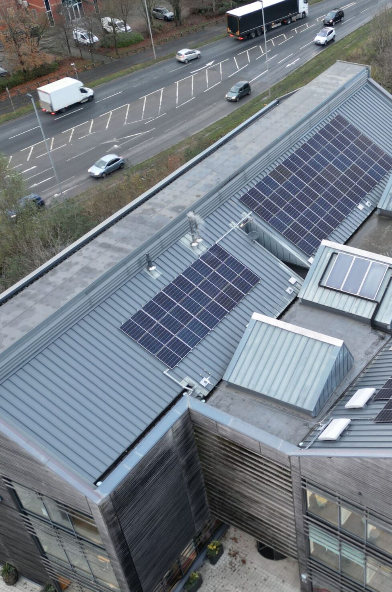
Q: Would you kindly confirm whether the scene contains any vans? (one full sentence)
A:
Yes, the frame does contain a van.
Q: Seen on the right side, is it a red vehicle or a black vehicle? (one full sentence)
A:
Visible on the right side is a black vehicle.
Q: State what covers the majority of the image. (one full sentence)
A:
The largest share of the image is taken up by buildings.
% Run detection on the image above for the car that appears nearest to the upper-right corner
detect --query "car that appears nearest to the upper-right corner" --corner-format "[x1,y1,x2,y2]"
[323,9,345,26]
